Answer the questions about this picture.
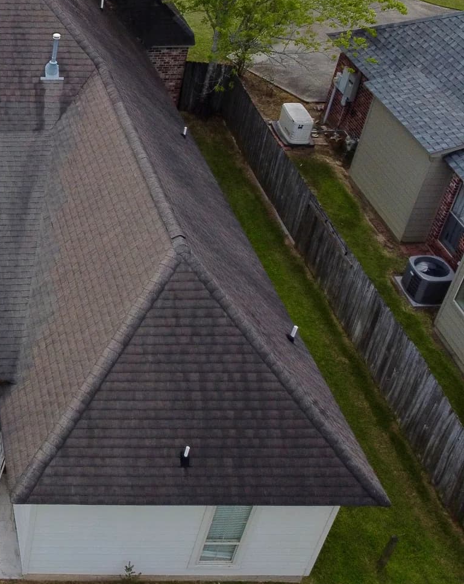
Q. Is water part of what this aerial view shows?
No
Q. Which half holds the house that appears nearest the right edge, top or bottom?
top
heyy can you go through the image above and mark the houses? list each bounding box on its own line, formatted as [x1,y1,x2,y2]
[0,0,392,582]
[310,28,464,373]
